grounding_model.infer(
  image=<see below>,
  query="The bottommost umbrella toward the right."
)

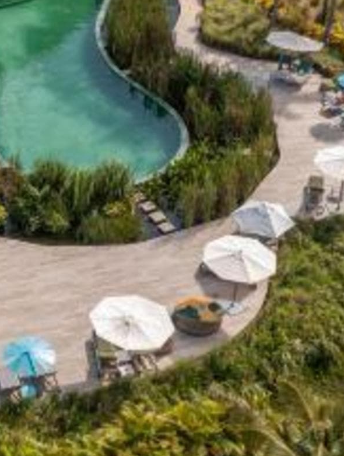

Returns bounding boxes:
[202,237,279,314]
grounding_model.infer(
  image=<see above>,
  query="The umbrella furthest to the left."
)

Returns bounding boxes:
[1,342,56,410]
